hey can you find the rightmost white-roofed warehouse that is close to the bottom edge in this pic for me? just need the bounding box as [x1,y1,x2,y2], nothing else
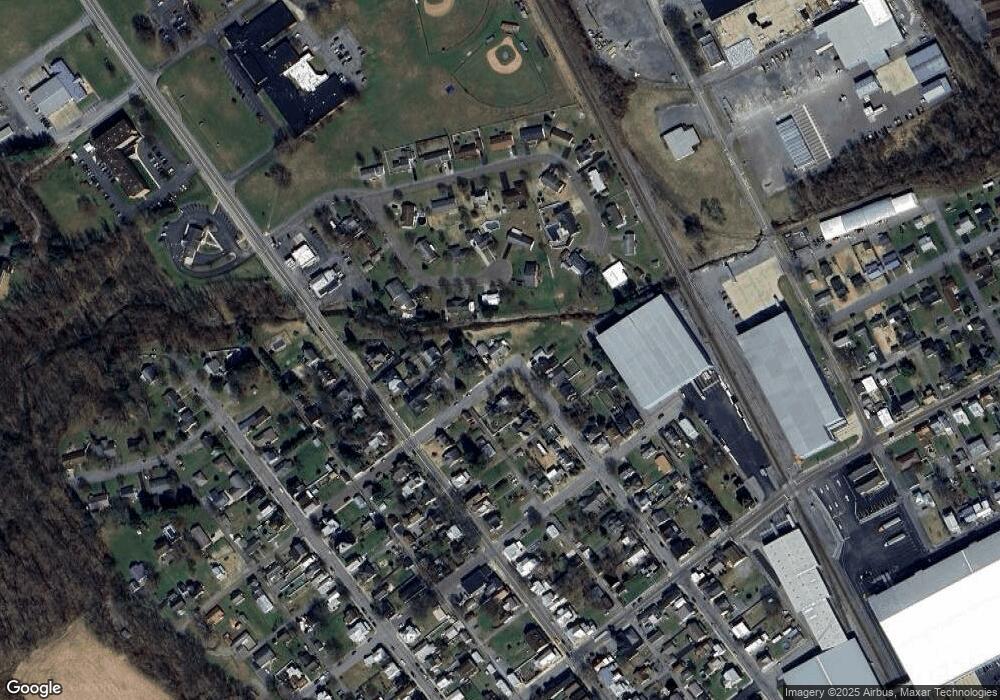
[868,532,1000,698]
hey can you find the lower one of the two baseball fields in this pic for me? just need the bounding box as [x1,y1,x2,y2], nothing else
[453,32,547,106]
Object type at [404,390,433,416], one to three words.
house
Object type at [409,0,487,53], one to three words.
baseball field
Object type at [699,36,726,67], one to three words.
building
